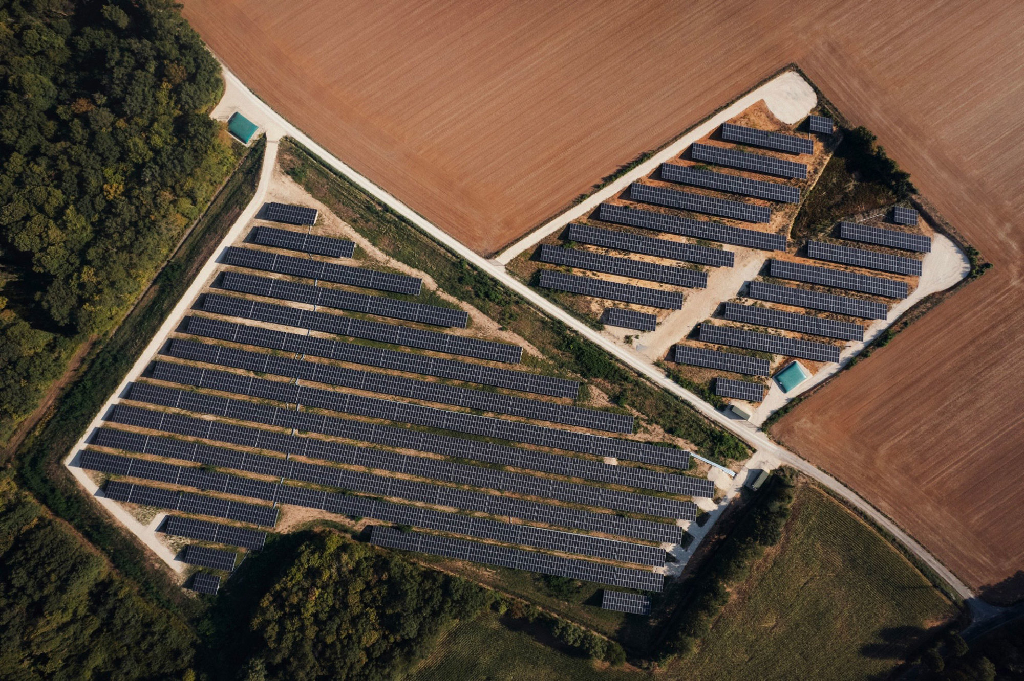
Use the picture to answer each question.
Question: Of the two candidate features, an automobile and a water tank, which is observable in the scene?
water tank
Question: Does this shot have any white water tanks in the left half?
No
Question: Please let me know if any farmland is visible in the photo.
Yes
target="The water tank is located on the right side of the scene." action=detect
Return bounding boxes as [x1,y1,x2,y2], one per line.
[772,361,808,394]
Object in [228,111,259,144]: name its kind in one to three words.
water tank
